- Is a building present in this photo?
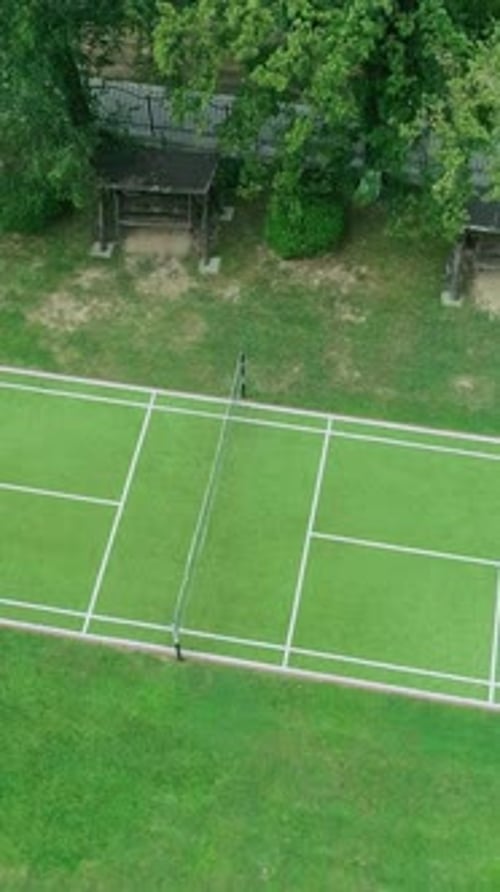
No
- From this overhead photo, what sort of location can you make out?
sports ground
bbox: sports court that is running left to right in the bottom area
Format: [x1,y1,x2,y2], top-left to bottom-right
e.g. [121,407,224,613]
[0,366,500,709]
